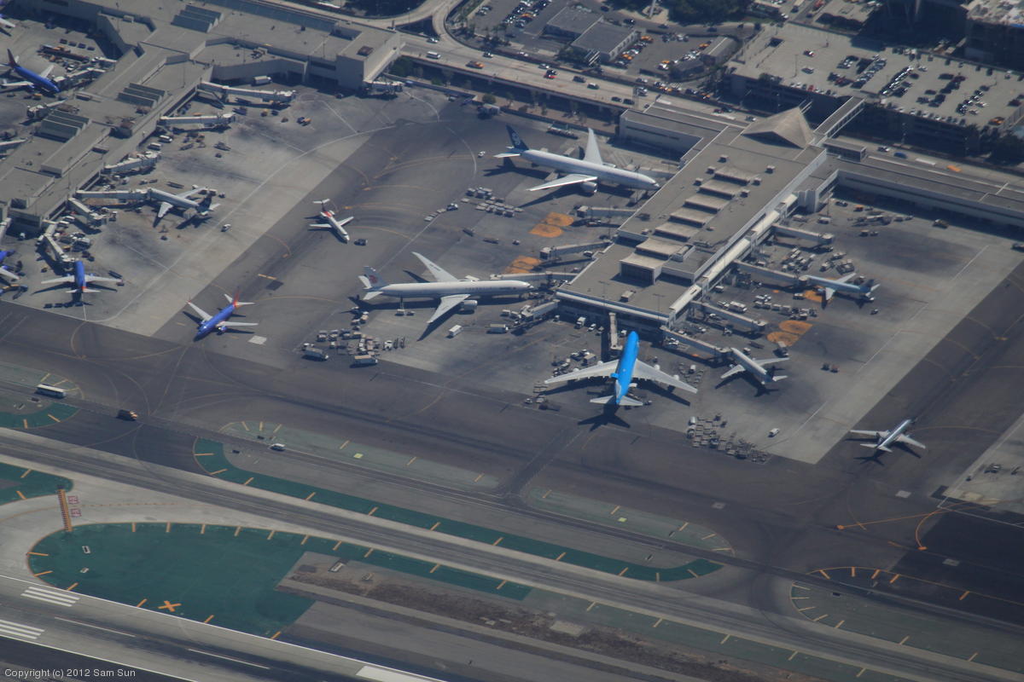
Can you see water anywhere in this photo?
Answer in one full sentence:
No, the picture contains no water.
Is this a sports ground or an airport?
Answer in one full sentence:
What you see here is an airport.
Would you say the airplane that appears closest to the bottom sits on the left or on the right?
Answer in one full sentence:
It is on the right.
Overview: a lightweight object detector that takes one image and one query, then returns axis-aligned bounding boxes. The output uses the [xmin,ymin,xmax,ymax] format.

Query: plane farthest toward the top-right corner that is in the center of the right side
[807,268,881,302]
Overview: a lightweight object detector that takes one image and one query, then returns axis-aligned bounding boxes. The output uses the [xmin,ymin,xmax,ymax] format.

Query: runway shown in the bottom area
[0,576,439,682]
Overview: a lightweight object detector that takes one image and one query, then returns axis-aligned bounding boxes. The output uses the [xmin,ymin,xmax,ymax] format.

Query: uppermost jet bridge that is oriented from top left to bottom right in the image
[66,196,104,226]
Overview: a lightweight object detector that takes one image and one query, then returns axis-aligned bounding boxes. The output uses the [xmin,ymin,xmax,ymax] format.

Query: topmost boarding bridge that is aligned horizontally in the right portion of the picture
[633,166,679,180]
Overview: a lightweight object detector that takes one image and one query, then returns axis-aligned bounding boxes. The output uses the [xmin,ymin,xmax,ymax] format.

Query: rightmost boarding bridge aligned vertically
[607,312,621,361]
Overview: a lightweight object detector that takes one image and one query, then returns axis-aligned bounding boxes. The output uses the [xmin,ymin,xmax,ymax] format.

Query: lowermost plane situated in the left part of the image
[188,292,260,342]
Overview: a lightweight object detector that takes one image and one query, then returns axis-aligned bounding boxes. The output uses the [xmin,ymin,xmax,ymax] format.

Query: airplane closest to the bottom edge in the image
[852,418,928,453]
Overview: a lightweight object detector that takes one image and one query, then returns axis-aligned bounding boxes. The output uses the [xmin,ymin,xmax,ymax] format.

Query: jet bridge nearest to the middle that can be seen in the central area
[516,299,562,328]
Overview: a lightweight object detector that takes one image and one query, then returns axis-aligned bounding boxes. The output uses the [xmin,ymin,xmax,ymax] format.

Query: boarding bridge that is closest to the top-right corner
[772,225,833,247]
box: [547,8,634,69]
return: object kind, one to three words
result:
building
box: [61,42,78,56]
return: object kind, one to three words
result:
vehicle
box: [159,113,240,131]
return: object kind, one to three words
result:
jet bridge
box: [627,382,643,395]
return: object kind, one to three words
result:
vehicle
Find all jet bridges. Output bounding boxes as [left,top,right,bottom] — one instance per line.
[73,187,155,205]
[50,67,101,92]
[656,324,731,361]
[538,240,614,267]
[24,97,67,122]
[0,218,13,252]
[607,312,621,361]
[574,207,640,226]
[103,151,165,180]
[516,299,562,328]
[772,225,833,247]
[159,113,240,131]
[361,81,404,100]
[40,217,72,271]
[66,196,104,226]
[88,55,111,68]
[692,302,766,333]
[734,261,807,289]
[495,271,581,287]
[633,166,679,180]
[199,80,297,107]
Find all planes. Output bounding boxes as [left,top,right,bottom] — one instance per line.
[491,128,659,195]
[152,187,217,216]
[852,418,928,453]
[360,252,535,322]
[41,260,123,293]
[544,333,699,410]
[0,48,59,94]
[188,292,260,342]
[718,348,791,384]
[807,268,881,302]
[309,202,352,243]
